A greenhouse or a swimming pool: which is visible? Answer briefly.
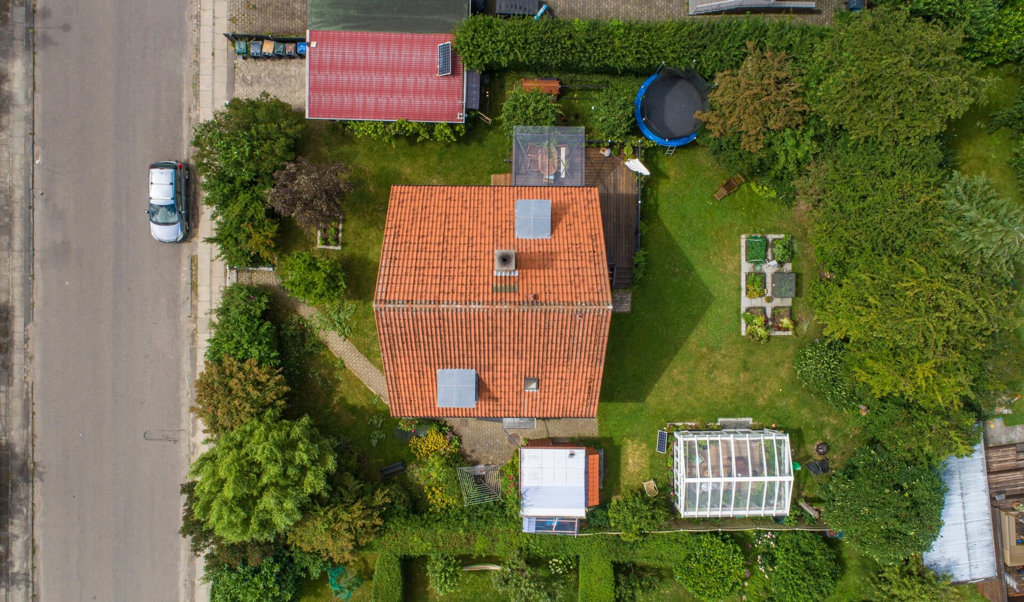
greenhouse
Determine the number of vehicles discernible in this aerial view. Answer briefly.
1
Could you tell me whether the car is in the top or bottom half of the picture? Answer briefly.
top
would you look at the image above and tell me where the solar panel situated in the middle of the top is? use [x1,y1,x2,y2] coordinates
[438,42,452,76]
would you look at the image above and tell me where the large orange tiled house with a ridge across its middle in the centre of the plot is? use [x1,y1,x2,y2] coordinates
[372,183,614,429]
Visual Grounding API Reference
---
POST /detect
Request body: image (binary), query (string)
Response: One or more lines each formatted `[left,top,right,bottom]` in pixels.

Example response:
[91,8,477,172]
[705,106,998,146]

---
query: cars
[143,161,192,244]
